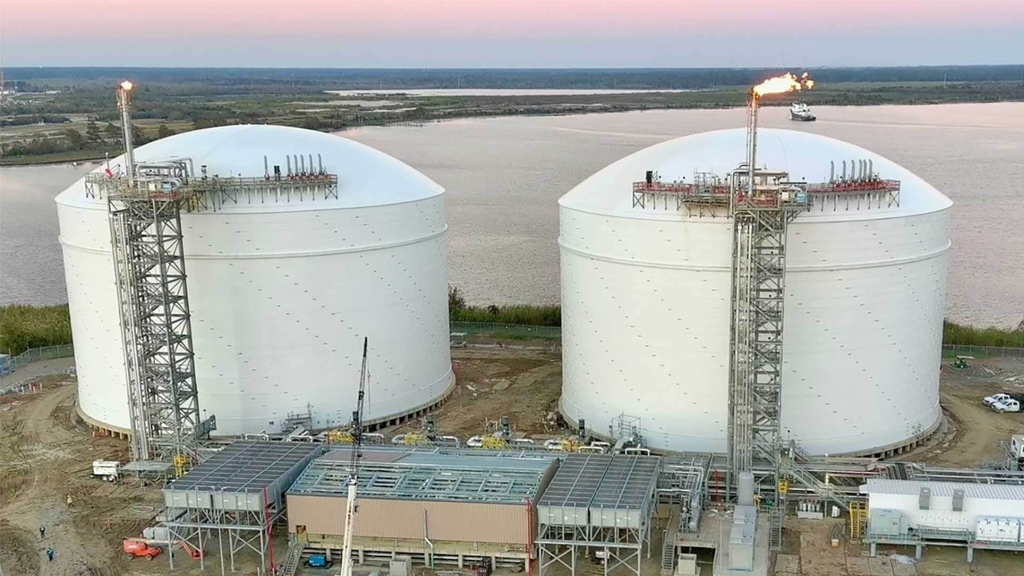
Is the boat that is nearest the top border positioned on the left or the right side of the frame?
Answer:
right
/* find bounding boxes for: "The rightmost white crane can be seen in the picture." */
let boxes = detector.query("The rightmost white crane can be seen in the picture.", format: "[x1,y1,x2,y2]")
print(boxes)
[337,336,377,576]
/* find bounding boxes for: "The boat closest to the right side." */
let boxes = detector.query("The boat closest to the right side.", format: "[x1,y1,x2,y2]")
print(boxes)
[791,98,817,120]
